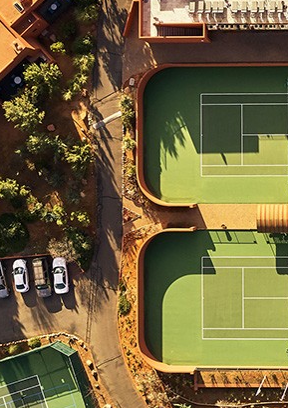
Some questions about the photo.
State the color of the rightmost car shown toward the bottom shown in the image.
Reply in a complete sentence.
In this view, the rightmost car shown toward the bottom is white.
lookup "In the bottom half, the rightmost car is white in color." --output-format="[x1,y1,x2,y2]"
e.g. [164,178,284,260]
[52,258,71,293]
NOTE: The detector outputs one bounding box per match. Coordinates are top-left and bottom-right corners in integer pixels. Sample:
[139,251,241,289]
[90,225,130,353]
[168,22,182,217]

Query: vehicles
[32,257,54,297]
[12,258,31,292]
[0,262,11,297]
[52,258,71,293]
